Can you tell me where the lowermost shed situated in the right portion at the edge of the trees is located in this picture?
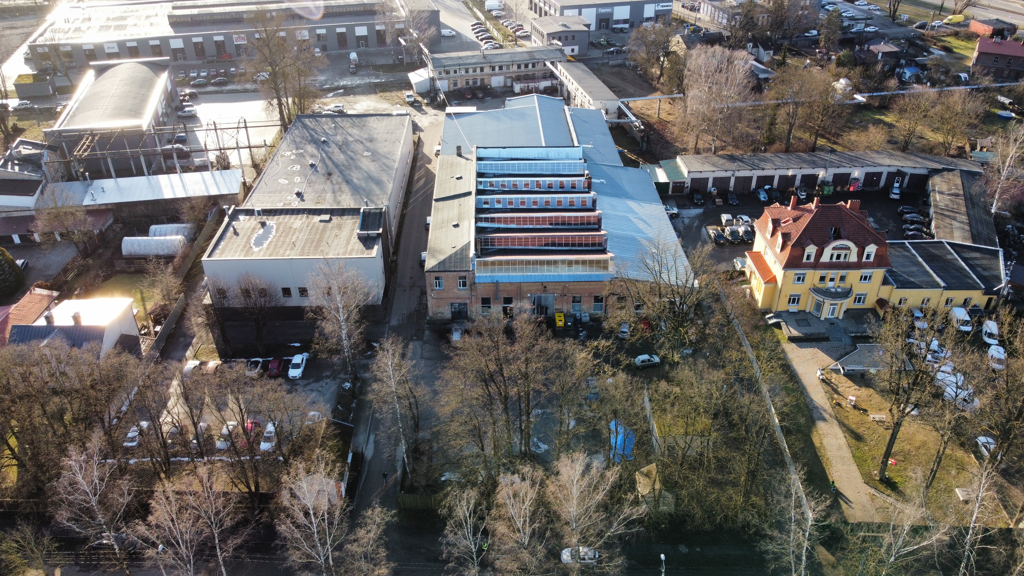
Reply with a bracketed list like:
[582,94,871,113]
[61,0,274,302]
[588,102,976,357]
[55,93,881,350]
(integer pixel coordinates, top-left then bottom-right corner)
[636,463,678,512]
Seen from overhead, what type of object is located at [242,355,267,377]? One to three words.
car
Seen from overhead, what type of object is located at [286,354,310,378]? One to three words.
car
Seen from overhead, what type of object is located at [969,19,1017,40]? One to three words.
shed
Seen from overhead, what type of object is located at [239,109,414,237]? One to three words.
warehouse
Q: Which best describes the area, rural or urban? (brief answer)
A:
urban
